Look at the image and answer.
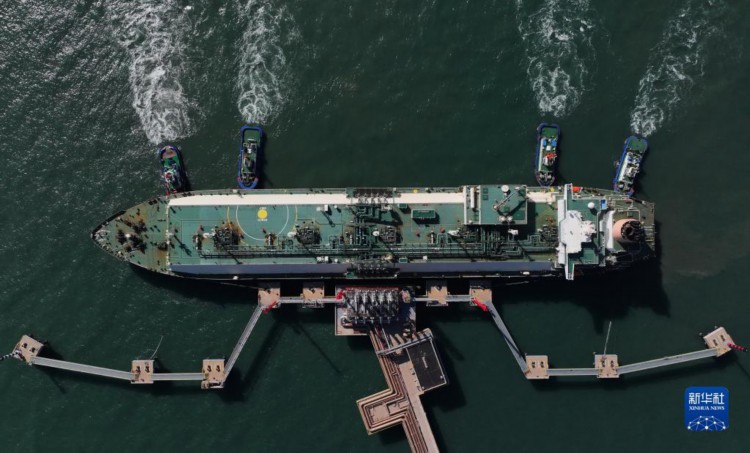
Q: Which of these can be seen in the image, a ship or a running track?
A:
ship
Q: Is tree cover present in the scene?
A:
No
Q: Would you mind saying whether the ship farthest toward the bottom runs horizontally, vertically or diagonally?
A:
horizontally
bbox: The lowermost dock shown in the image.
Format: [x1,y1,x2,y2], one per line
[356,330,444,453]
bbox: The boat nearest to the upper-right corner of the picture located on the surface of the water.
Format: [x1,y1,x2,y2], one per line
[613,136,648,194]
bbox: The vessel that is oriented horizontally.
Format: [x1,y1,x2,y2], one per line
[89,183,656,281]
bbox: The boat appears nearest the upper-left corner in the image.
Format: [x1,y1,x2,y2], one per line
[157,145,190,193]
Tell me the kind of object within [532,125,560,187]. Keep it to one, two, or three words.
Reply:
boat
